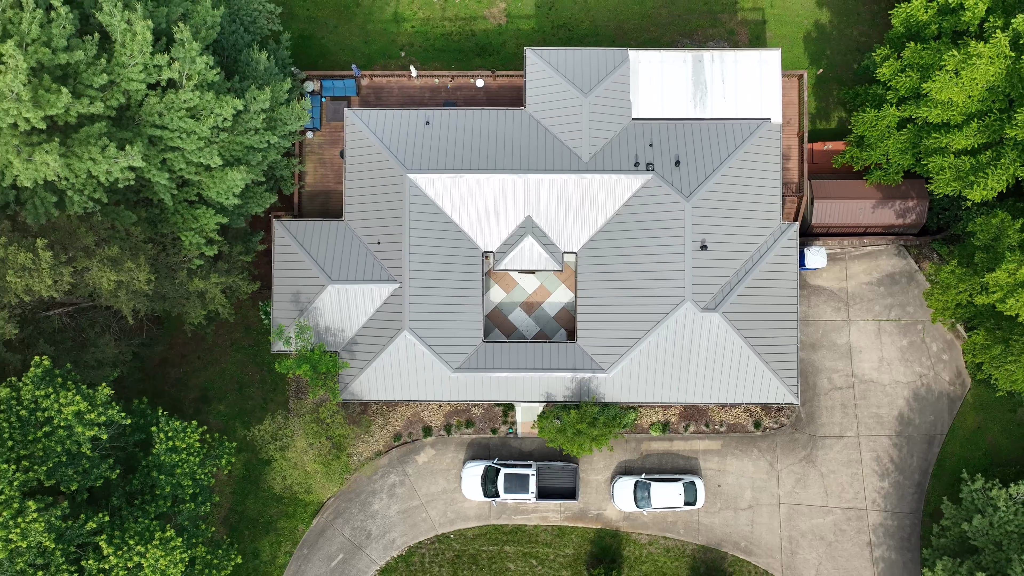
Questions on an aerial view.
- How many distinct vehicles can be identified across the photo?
2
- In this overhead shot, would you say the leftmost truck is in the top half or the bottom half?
bottom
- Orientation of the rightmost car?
horizontally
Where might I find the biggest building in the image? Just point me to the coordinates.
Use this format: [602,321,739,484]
[271,47,799,405]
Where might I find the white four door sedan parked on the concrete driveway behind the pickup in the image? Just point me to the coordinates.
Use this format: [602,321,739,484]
[610,470,706,517]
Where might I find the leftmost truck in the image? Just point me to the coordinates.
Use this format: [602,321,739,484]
[460,456,582,511]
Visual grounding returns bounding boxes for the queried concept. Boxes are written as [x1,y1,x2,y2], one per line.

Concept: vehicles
[460,456,582,511]
[610,470,706,517]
